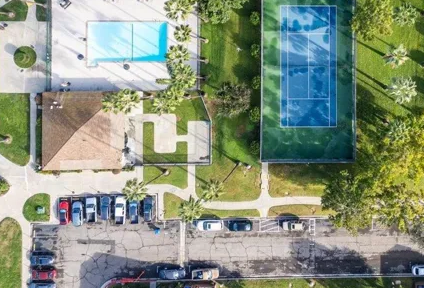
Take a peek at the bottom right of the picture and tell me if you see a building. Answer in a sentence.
No, no building appears at the bottom right of the picture.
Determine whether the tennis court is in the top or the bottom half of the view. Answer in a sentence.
You can find the tennis court in the top half.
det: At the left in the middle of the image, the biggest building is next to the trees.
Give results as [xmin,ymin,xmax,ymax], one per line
[42,91,128,170]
